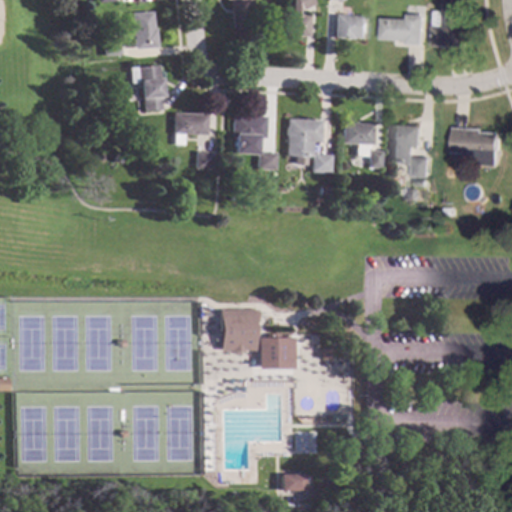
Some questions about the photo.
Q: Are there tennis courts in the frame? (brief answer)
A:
Yes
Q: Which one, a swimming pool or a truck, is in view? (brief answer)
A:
swimming pool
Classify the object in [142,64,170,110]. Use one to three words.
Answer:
house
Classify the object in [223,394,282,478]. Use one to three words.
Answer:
swimming pool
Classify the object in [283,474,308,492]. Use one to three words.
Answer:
shed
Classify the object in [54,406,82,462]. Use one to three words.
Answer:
tennis court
